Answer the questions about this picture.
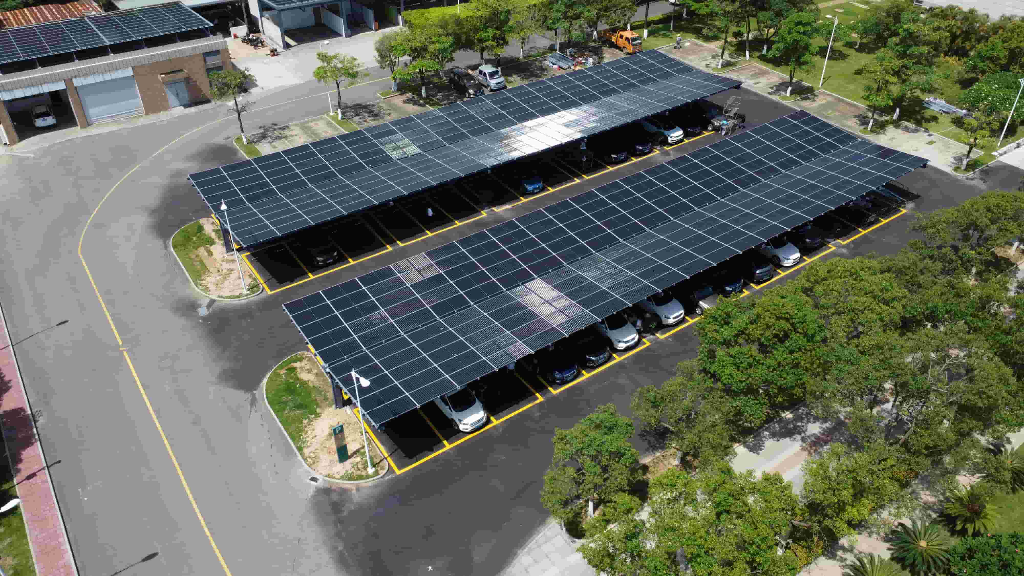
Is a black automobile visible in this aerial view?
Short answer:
Yes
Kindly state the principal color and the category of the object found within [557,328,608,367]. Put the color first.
black car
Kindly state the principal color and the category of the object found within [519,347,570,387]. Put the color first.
black car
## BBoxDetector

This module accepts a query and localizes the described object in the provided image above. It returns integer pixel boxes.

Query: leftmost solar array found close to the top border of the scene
[0,1,208,71]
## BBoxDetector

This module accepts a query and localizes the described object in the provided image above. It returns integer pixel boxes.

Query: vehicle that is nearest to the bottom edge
[431,387,484,434]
